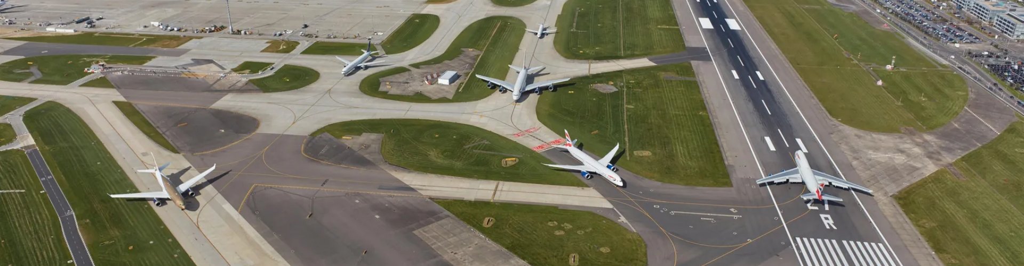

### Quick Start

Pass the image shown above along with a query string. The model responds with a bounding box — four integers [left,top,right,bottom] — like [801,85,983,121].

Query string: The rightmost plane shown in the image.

[758,150,874,202]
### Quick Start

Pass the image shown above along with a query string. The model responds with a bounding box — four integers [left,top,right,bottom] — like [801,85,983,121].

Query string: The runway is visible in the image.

[687,0,904,266]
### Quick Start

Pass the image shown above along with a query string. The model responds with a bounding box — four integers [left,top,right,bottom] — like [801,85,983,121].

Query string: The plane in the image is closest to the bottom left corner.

[107,152,215,210]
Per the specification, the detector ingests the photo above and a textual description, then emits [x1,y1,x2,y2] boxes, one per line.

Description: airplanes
[336,40,384,75]
[525,21,556,37]
[758,150,874,202]
[107,152,215,210]
[542,129,623,186]
[476,49,570,102]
